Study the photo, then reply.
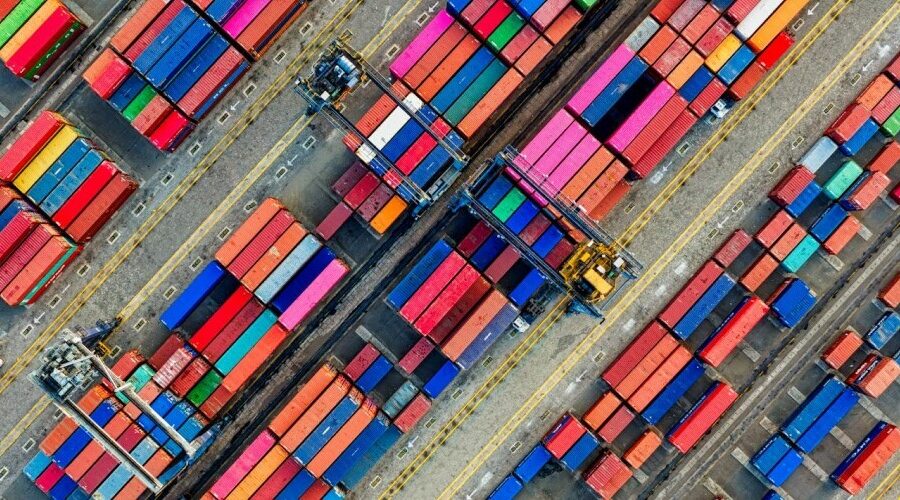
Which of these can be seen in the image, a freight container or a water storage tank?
freight container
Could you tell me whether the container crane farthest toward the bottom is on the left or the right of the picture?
left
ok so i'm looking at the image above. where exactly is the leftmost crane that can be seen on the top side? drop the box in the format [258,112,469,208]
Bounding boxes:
[286,34,477,221]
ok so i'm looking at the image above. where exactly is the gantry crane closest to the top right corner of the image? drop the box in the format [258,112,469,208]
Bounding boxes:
[446,131,655,324]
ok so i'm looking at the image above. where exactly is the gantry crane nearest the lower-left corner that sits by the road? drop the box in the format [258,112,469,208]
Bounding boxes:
[11,308,239,500]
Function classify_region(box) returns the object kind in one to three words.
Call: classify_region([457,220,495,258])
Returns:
shipping container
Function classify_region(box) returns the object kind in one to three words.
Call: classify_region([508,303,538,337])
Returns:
truck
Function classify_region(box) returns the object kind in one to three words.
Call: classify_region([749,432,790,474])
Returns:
shipping container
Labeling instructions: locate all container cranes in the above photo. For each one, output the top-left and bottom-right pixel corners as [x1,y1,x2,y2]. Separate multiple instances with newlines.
[11,308,239,500]
[446,131,655,324]
[286,34,477,221]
